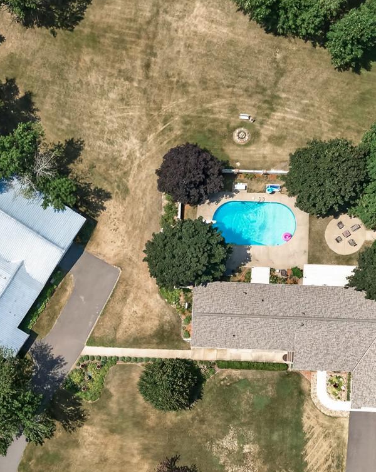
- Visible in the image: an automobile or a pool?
pool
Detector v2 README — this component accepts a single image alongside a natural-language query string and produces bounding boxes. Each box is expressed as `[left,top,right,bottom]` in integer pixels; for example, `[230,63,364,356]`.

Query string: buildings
[190,282,376,413]
[0,168,86,377]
